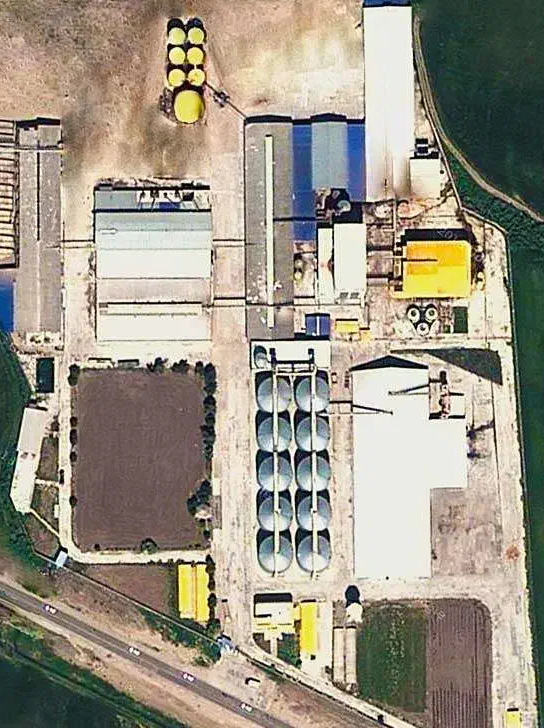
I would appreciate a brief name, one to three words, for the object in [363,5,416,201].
building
